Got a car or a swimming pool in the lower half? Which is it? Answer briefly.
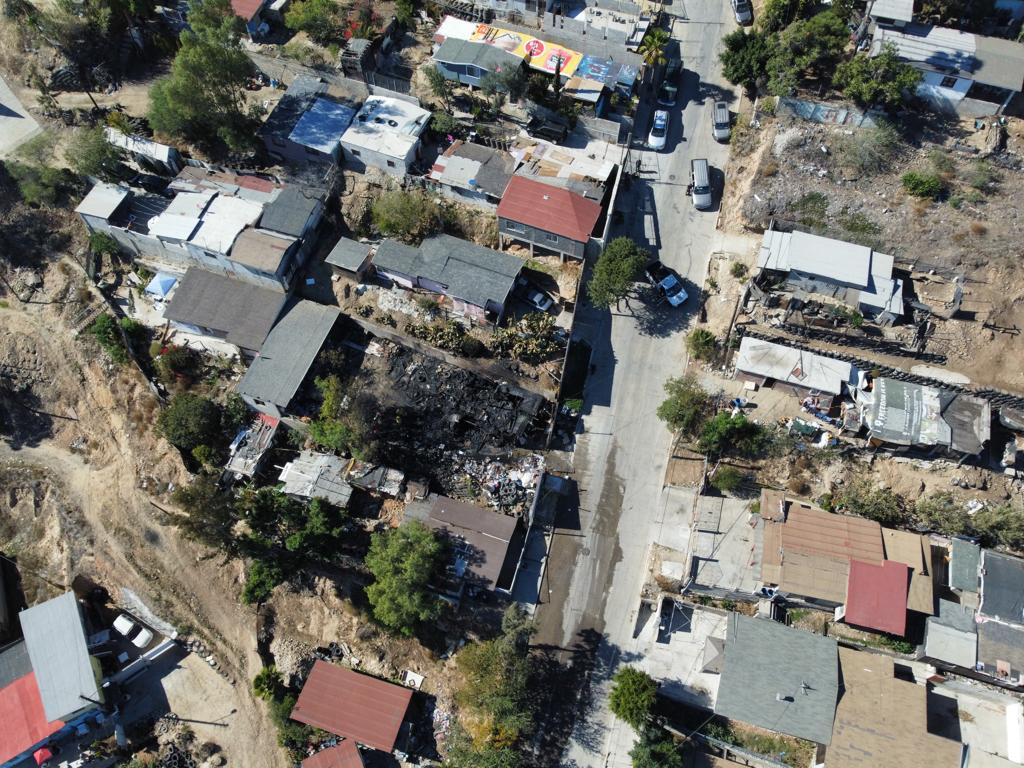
car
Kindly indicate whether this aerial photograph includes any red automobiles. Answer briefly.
No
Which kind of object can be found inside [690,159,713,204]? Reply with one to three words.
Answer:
vehicle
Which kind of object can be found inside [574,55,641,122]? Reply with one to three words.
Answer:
building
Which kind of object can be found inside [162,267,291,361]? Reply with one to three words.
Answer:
house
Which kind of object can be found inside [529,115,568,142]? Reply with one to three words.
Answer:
car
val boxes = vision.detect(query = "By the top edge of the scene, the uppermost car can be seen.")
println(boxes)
[731,0,752,21]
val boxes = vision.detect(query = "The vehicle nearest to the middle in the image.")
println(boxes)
[514,273,560,316]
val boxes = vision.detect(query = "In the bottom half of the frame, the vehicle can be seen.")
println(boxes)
[104,609,157,654]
